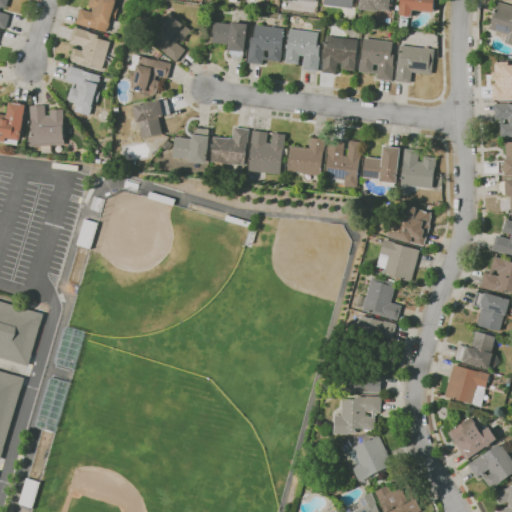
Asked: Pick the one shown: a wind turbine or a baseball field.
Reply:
baseball field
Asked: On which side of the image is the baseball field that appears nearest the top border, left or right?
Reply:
left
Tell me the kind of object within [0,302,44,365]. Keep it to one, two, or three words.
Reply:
building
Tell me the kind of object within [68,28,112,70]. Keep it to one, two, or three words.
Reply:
house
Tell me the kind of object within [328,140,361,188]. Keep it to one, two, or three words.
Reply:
house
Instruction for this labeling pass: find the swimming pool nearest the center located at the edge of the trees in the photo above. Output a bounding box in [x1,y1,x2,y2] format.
[366,180,390,195]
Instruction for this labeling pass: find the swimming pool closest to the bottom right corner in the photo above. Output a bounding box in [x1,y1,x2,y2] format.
[340,487,363,506]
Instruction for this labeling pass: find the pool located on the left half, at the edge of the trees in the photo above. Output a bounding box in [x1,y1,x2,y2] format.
[117,76,130,106]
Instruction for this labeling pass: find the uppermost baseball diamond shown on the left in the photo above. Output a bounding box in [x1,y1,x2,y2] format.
[76,190,254,338]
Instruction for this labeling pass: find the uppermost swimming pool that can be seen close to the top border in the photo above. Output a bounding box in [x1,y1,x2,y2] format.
[411,12,431,28]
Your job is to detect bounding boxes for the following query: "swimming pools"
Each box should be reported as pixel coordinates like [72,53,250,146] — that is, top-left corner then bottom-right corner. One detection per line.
[340,487,363,506]
[411,12,431,28]
[492,38,512,54]
[300,496,326,512]
[117,76,130,106]
[366,180,390,195]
